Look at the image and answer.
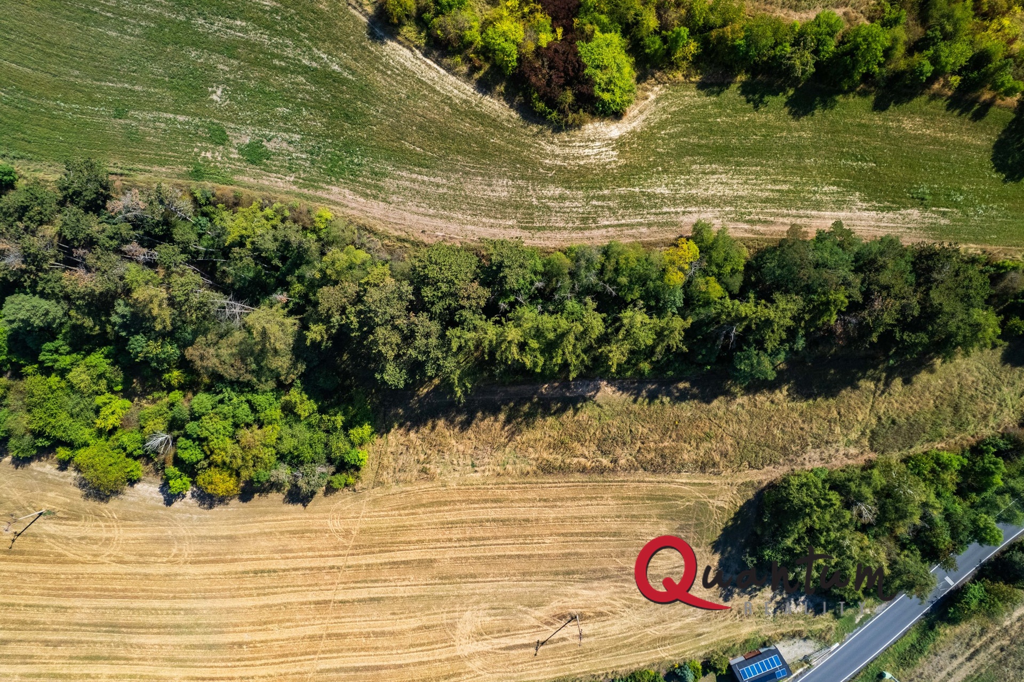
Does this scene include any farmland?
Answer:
Yes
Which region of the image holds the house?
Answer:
bottom right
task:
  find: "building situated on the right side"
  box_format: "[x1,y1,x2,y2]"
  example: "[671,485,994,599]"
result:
[728,641,786,682]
